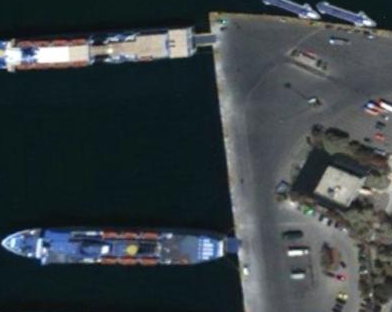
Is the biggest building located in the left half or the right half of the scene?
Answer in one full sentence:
You can find the biggest building on the right side of the picture.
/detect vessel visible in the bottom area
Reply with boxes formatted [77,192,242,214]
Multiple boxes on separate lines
[1,227,240,266]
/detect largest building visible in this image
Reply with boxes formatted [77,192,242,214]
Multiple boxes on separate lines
[303,163,366,207]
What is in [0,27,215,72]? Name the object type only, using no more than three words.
ship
